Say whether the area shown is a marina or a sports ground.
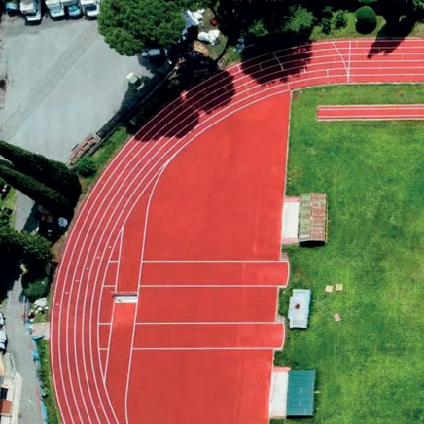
sports ground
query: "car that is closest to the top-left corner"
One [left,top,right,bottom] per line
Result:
[2,1,26,16]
